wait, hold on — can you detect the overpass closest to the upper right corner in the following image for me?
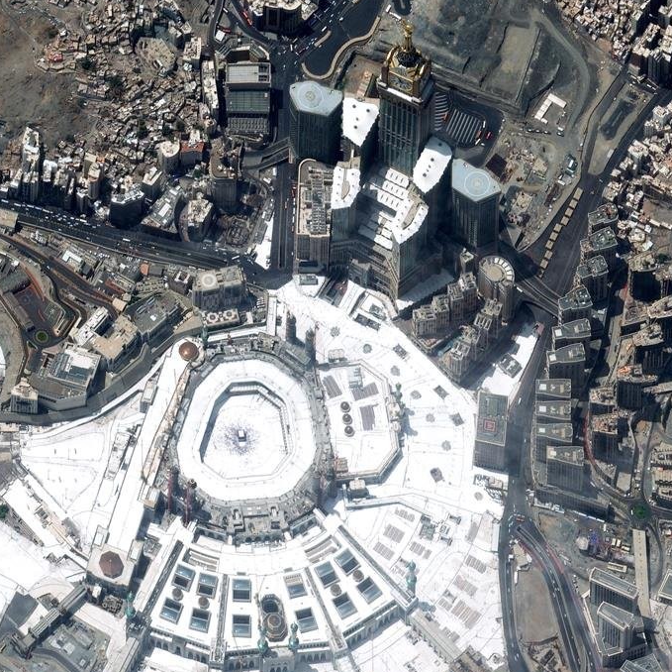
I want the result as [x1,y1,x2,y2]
[514,281,558,323]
